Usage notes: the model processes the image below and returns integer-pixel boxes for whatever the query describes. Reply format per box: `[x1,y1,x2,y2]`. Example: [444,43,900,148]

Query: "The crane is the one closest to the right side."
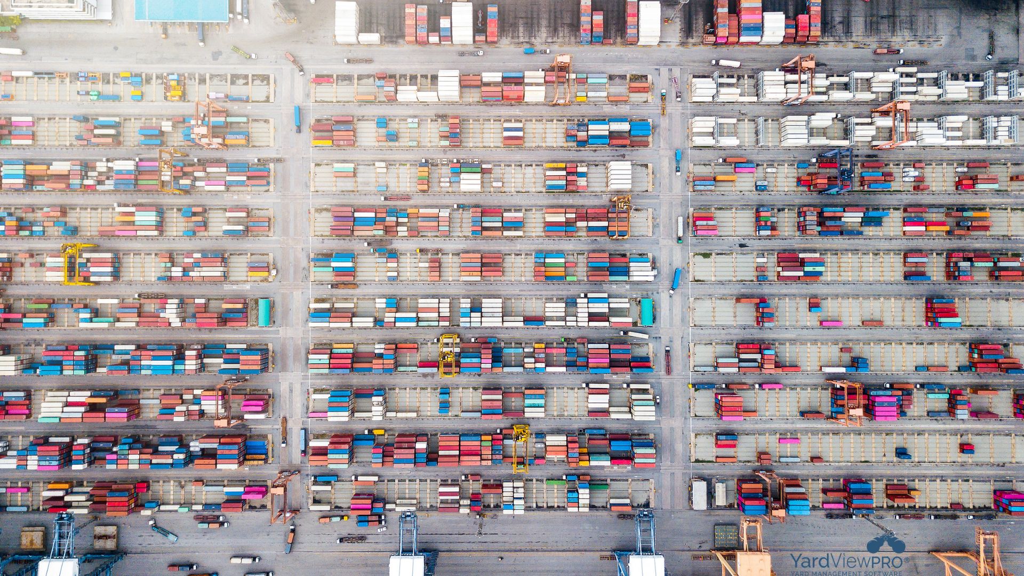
[930,529,1011,576]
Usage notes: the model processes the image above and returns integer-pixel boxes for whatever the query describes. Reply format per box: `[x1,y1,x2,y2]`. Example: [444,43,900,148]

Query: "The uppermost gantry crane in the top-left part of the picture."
[193,100,228,151]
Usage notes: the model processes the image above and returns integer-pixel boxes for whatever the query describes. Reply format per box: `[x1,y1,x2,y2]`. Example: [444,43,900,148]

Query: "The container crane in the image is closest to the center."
[439,334,461,380]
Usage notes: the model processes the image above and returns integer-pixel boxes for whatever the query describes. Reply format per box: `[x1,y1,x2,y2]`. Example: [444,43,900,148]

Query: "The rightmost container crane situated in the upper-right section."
[872,100,912,151]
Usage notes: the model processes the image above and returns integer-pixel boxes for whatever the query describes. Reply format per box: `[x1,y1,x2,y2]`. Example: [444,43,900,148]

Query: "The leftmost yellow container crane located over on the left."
[63,241,101,287]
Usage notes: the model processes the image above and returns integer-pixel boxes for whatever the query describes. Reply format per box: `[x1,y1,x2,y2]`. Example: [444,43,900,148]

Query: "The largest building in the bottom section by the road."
[689,477,707,509]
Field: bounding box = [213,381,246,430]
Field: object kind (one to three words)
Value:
container crane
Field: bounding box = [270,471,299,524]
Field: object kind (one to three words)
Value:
container crane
